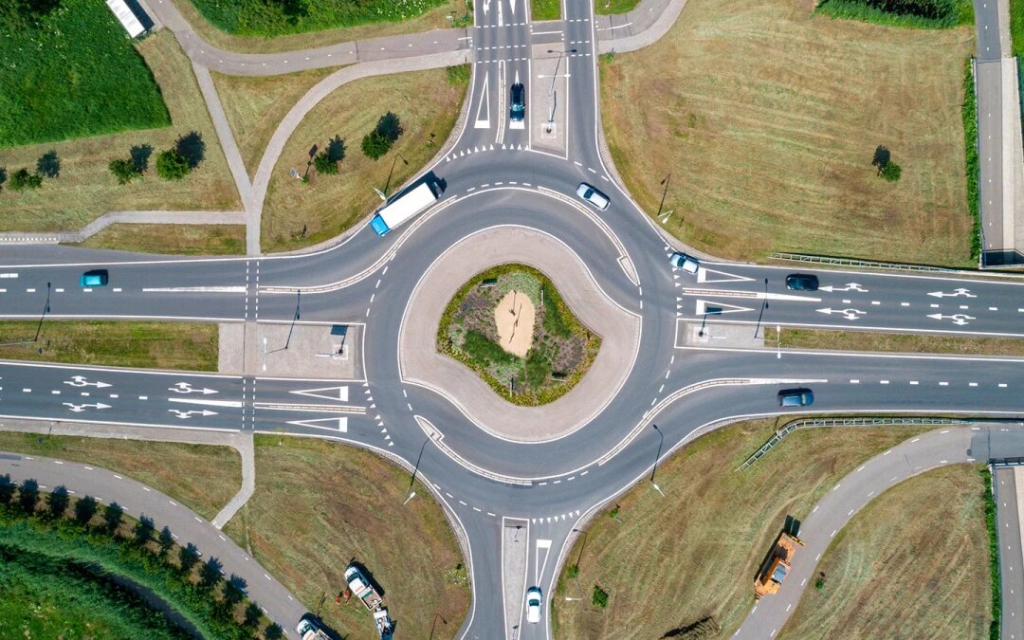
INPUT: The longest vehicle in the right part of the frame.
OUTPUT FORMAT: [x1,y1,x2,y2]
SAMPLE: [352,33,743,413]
[759,534,811,603]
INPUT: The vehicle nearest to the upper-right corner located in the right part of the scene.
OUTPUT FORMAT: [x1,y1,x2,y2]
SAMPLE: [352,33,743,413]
[785,276,817,291]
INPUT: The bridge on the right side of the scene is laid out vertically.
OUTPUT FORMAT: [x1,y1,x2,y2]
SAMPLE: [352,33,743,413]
[974,57,1024,268]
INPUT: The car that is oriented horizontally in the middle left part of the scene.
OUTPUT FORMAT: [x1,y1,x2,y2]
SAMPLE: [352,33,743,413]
[80,273,108,287]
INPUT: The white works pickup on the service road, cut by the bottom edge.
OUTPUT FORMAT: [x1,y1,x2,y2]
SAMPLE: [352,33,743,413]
[299,619,325,640]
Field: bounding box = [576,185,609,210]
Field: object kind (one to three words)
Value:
car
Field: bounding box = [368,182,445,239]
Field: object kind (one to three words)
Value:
truck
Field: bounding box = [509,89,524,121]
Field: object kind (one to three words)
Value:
car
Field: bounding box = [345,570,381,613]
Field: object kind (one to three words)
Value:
truck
